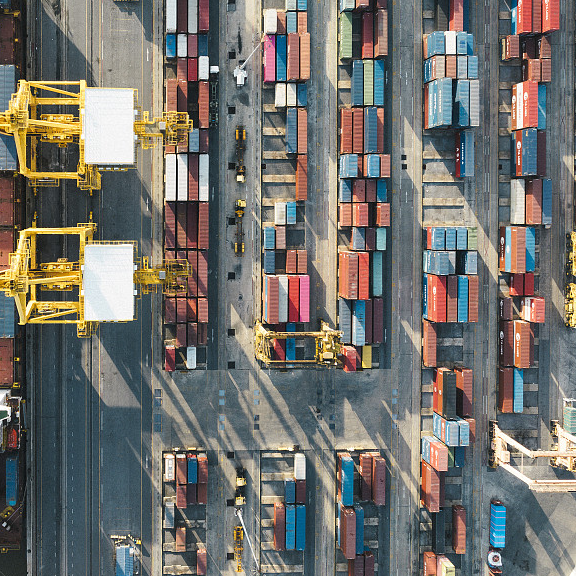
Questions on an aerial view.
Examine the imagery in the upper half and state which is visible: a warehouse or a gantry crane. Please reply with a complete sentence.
It is a gantry crane that can be seen in the upper half.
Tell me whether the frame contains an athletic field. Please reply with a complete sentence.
No, there is no athletic field in the image.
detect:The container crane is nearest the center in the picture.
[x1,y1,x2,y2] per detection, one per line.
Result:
[253,316,351,366]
